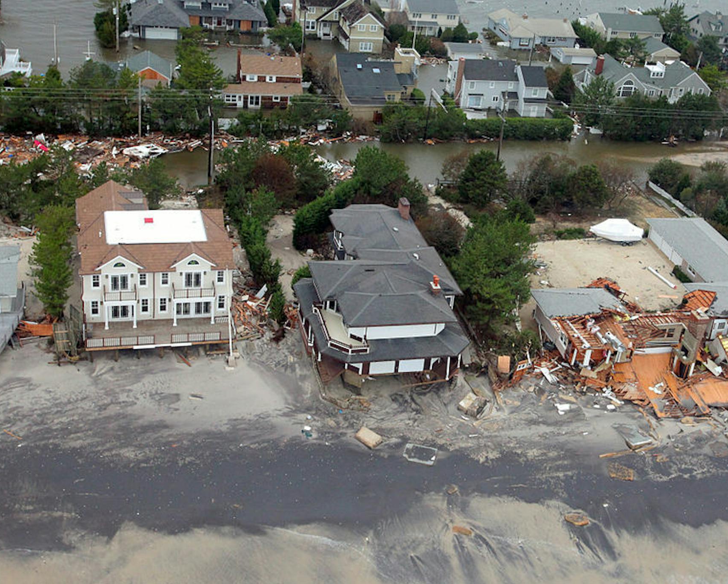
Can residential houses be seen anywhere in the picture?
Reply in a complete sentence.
Yes, you can see a residential house in this photo.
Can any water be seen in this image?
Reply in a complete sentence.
Yes, water can be seen from above here.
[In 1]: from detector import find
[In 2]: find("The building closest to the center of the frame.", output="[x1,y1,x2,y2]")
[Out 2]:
[294,196,470,387]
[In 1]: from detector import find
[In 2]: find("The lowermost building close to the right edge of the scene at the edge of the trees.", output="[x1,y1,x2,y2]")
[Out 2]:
[532,210,728,419]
